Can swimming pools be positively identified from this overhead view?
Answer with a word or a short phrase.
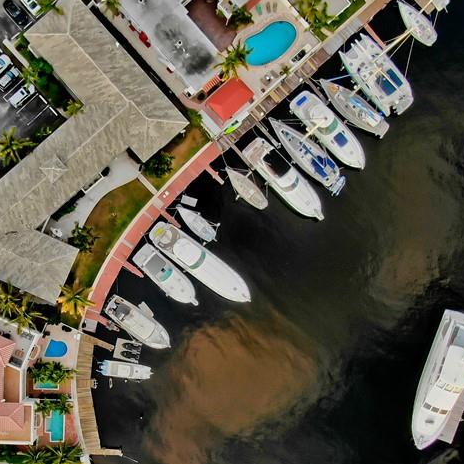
Yes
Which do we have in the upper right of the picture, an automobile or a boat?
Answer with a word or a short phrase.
boat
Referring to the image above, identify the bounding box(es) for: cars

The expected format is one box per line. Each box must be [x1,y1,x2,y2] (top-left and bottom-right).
[9,82,37,110]
[1,0,30,30]
[0,67,22,92]
[20,0,44,19]
[0,53,13,76]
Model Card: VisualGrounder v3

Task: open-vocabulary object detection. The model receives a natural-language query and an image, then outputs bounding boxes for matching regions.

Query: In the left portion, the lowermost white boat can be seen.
[99,361,150,379]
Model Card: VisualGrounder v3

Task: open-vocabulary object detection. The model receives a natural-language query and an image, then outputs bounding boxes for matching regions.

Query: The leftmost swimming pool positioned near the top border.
[241,18,298,67]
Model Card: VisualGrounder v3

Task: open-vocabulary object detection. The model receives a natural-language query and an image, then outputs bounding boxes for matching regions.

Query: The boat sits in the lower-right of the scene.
[412,304,464,450]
